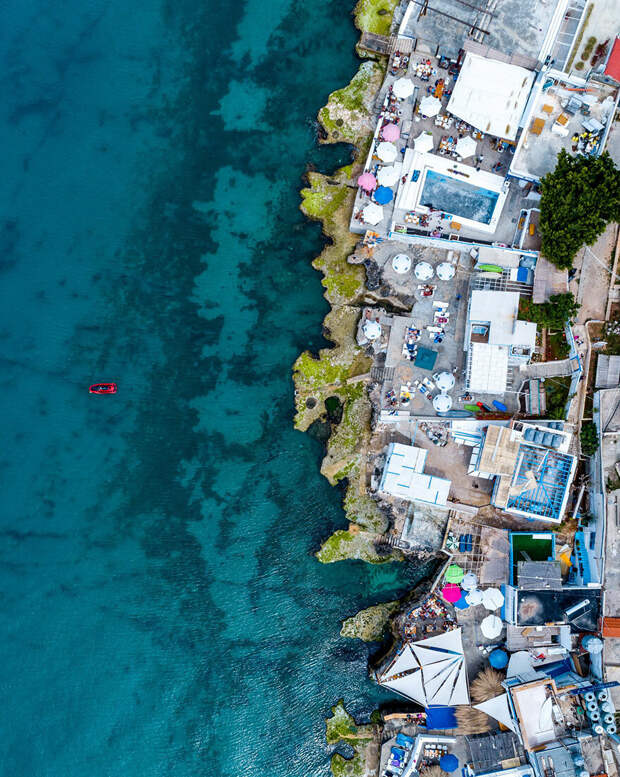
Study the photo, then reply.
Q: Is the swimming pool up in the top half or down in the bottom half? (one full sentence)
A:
It is in the top half that the swimming pool appears.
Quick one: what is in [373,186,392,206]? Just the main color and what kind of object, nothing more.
blue umbrella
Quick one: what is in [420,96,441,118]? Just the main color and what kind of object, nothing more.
white umbrella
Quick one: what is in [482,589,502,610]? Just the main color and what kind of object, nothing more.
white umbrella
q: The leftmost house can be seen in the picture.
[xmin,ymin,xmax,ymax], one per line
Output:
[376,441,451,505]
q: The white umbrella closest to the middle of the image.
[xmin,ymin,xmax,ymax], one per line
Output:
[364,321,380,338]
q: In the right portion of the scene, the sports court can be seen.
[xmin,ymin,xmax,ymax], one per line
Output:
[508,530,555,587]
